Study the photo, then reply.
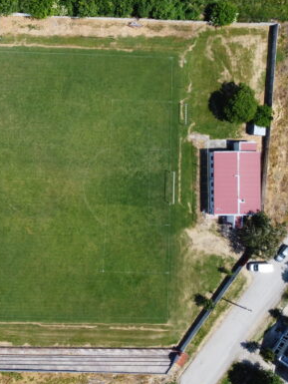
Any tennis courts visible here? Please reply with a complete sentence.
No, there isn't any tennis court down there.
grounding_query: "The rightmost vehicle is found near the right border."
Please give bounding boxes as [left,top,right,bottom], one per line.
[273,243,288,261]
